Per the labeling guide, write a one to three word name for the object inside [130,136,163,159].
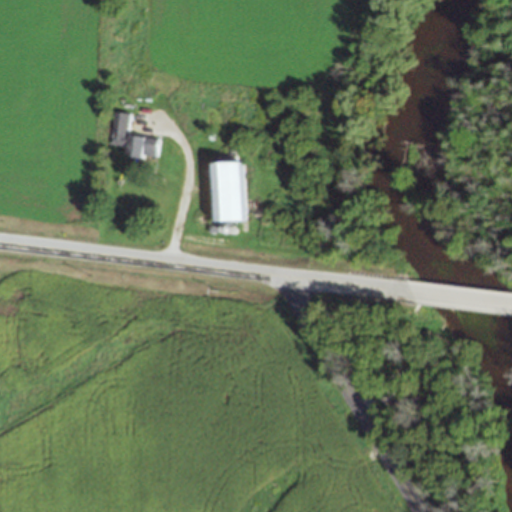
house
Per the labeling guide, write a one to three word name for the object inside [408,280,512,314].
bridge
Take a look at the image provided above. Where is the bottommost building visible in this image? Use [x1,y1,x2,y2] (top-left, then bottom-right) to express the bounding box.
[210,162,250,223]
